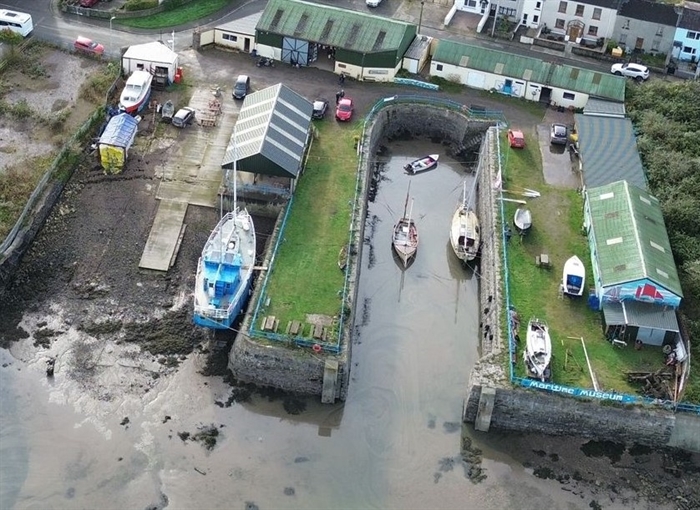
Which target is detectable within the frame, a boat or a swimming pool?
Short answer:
boat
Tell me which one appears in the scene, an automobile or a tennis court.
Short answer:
automobile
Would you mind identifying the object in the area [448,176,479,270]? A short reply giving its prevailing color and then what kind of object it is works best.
white boat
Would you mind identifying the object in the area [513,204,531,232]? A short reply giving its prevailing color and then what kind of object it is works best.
white boat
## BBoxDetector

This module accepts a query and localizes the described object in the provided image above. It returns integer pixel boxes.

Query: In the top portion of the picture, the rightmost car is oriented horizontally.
[612,62,649,79]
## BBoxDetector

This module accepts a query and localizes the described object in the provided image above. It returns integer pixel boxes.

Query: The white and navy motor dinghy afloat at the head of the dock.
[403,152,439,178]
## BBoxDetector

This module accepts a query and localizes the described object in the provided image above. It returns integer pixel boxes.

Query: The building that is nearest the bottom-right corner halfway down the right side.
[578,179,686,355]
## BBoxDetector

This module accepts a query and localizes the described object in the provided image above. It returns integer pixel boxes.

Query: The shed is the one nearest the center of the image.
[219,85,318,199]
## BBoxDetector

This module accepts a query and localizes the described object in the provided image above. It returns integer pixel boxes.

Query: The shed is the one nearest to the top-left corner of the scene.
[118,41,187,84]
